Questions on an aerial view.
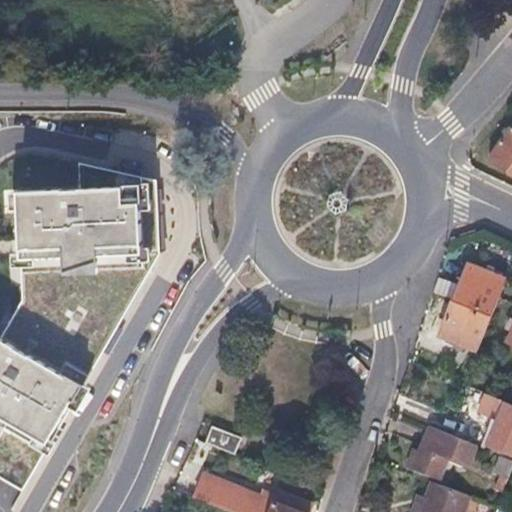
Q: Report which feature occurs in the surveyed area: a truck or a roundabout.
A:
roundabout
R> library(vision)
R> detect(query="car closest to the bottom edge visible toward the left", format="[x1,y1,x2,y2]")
[49,487,65,507]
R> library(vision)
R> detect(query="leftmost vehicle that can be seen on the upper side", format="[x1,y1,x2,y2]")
[35,120,56,132]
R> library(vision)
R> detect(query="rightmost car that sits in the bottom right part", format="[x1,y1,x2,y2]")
[443,415,464,430]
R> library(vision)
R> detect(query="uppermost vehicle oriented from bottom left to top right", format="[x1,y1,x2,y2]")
[179,260,195,281]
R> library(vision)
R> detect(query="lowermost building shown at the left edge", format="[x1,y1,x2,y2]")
[0,340,95,454]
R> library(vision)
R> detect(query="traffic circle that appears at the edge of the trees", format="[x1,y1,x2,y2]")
[222,74,456,317]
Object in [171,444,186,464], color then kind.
white car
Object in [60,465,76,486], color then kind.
white car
